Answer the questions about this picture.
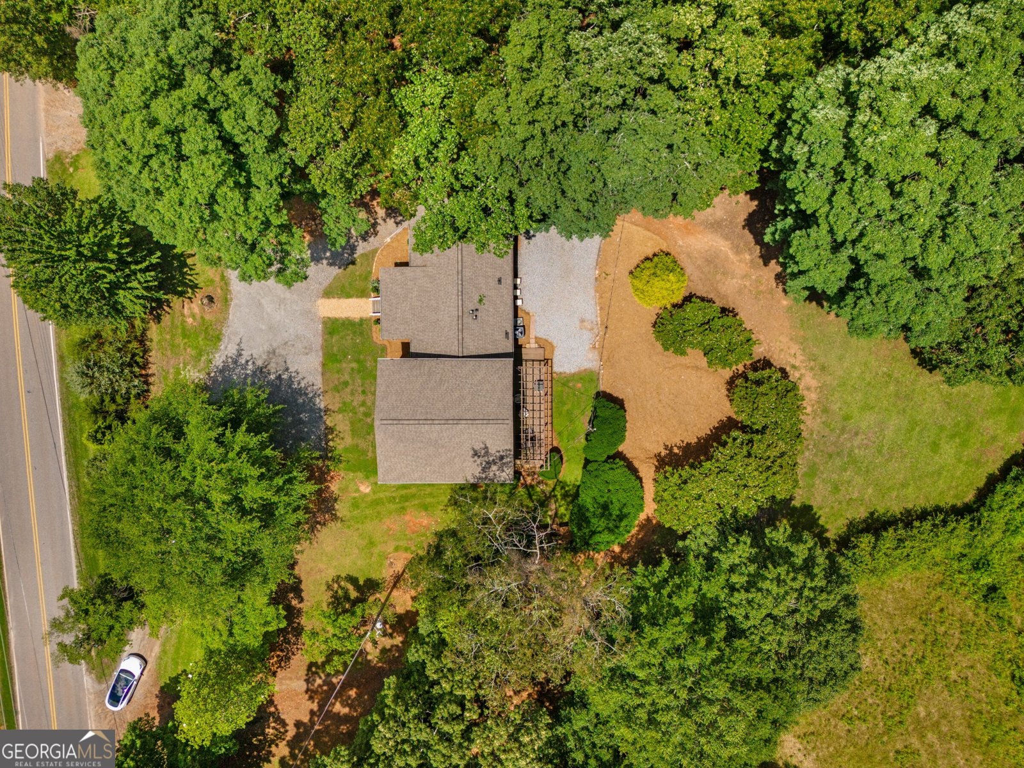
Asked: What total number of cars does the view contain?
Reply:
one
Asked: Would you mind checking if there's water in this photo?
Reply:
No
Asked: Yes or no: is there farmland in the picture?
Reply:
No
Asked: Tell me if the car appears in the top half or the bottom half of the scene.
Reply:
bottom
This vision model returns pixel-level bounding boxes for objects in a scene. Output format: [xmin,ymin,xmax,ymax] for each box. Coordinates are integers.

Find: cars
[107,650,149,707]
